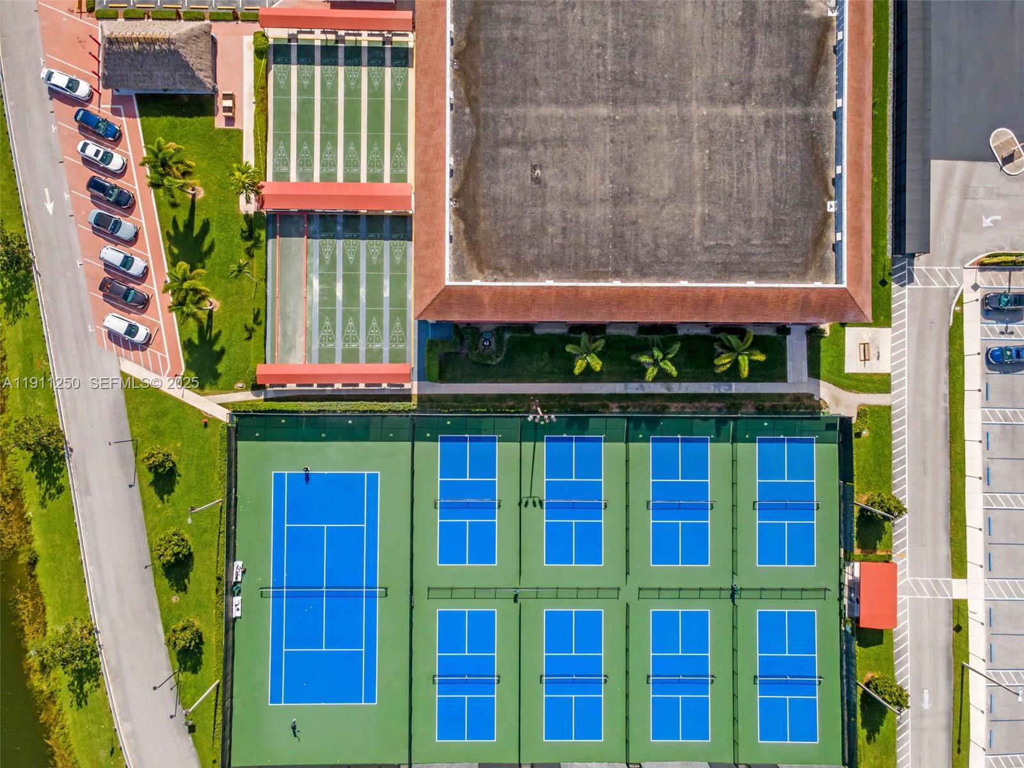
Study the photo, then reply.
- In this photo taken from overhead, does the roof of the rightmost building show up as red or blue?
red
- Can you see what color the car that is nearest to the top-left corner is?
white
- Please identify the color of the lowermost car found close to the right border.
blue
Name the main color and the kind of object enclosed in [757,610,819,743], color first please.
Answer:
blue sports court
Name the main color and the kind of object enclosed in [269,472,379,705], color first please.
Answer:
blue tennis court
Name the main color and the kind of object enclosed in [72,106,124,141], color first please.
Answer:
blue car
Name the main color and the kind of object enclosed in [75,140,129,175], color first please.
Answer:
white car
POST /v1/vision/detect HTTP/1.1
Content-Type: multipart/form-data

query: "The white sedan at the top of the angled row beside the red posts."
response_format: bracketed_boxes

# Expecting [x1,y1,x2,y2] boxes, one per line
[39,67,95,102]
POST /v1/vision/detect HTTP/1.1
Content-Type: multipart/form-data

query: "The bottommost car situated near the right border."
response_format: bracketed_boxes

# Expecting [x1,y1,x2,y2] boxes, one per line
[984,343,1024,366]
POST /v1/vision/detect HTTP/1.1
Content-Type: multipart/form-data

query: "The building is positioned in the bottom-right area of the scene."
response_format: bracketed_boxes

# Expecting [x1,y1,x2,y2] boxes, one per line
[842,560,897,630]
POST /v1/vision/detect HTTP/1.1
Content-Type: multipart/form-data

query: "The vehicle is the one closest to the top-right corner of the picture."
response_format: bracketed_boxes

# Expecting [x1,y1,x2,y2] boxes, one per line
[980,290,1024,313]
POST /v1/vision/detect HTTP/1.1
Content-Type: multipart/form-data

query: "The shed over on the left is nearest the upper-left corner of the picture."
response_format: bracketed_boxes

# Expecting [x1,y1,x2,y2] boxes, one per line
[102,21,221,96]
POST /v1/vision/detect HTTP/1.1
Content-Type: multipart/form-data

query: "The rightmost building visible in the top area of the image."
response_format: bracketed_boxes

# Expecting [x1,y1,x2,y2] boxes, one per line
[413,0,875,324]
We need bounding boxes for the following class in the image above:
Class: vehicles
[72,106,124,141]
[85,208,141,243]
[99,311,154,346]
[39,67,95,102]
[980,290,1024,313]
[984,343,1024,366]
[96,275,152,310]
[75,140,129,175]
[480,330,493,351]
[83,174,138,209]
[96,244,151,278]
